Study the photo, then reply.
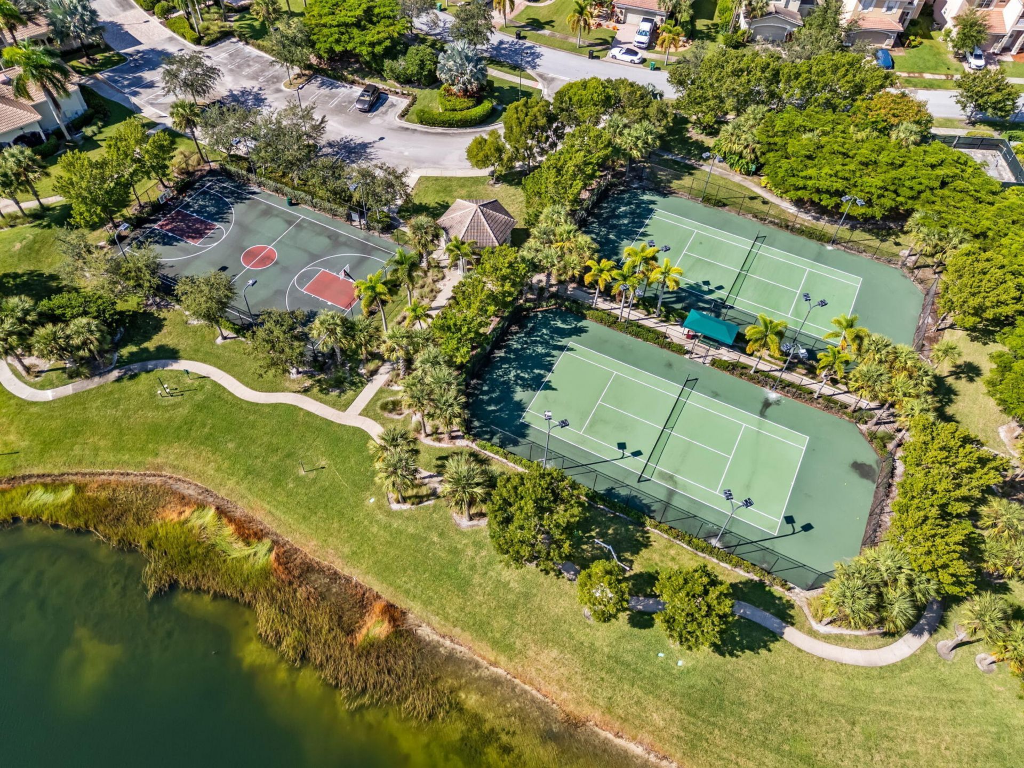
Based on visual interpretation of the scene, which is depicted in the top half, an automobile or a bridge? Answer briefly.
automobile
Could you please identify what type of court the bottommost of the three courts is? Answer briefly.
tennis court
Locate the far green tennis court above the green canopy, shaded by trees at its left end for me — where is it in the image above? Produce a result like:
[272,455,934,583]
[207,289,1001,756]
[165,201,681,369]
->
[563,183,924,383]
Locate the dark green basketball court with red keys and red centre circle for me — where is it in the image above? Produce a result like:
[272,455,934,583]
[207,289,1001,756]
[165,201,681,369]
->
[87,166,412,373]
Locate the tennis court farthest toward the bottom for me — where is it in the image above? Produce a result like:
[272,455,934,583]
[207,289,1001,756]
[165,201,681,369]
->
[456,307,882,591]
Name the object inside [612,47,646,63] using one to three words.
car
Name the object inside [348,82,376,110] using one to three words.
car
